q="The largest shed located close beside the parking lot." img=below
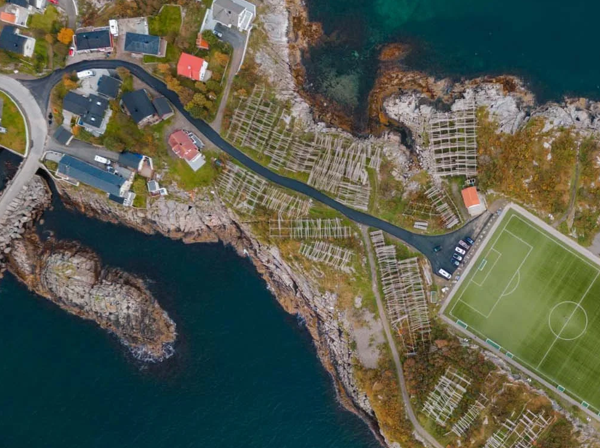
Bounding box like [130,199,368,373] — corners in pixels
[461,186,489,218]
